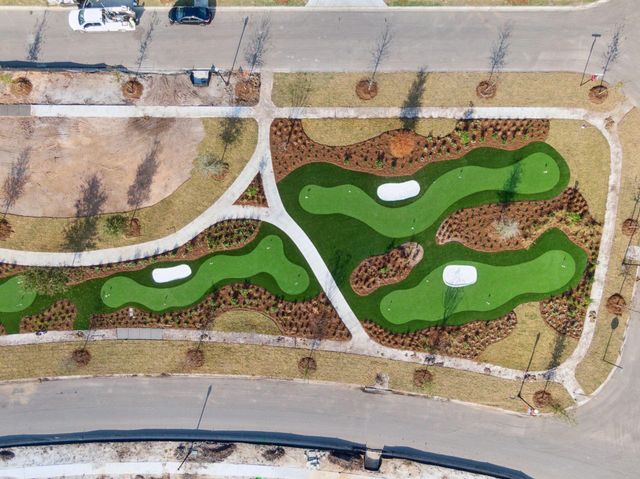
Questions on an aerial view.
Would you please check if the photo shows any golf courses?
Yes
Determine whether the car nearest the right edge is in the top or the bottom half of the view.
top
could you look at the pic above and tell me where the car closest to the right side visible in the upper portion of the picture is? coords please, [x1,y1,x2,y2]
[169,3,214,26]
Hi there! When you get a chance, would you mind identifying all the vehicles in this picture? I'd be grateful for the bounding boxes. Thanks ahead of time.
[68,4,136,32]
[169,3,214,26]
